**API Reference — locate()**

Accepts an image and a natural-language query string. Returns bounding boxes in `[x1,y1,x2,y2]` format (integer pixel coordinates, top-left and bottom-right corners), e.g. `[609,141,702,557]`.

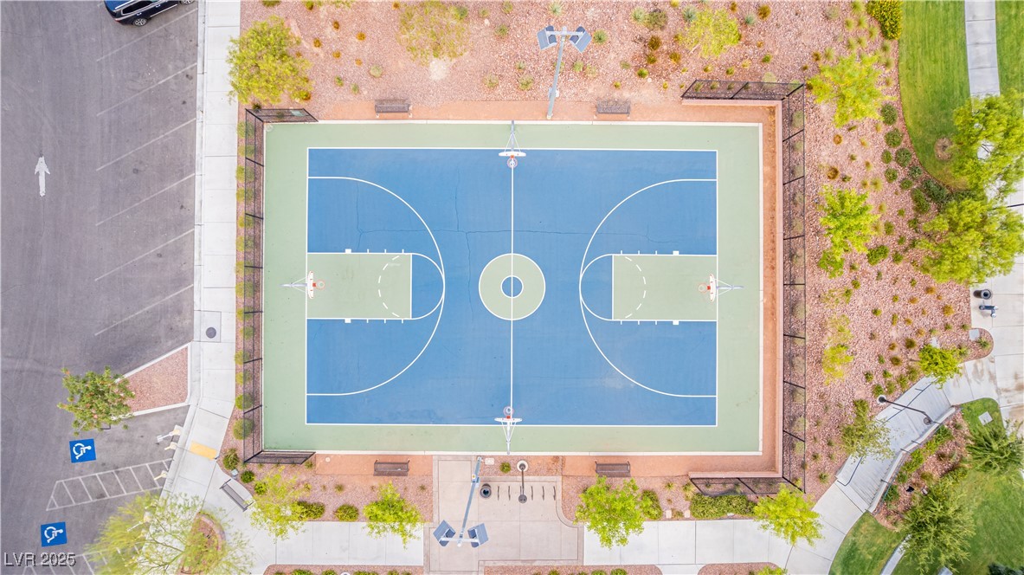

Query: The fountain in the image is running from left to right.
[976,305,1012,321]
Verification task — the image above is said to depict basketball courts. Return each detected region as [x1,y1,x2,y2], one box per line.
[261,119,764,456]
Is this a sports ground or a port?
sports ground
